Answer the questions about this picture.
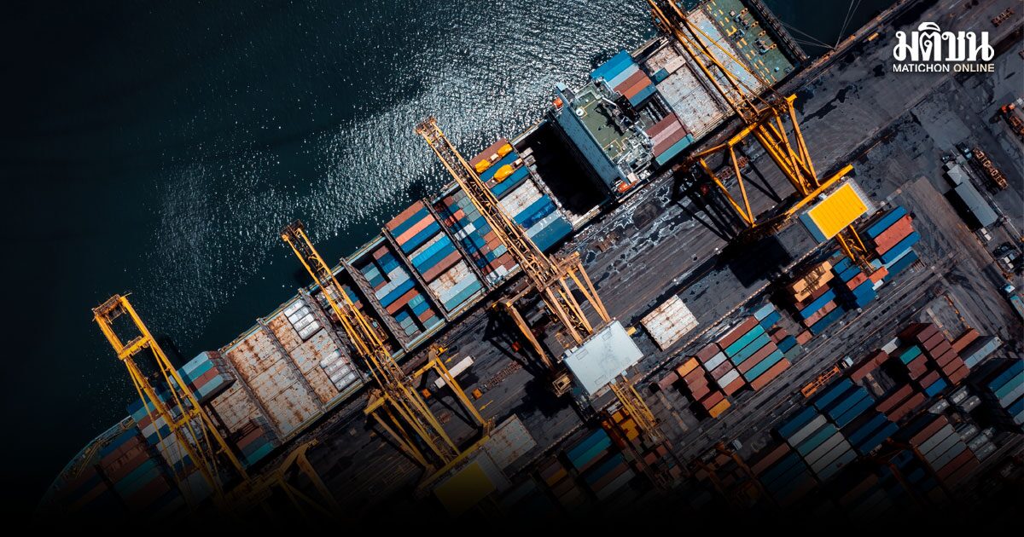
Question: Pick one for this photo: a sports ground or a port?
port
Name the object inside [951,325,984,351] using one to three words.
shipping container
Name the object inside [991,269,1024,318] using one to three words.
truck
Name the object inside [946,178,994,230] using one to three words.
shed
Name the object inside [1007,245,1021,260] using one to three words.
car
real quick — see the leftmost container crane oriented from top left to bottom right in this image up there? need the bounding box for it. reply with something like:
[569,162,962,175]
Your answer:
[91,293,372,537]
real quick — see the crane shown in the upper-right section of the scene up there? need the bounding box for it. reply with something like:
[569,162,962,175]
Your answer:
[649,0,884,282]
